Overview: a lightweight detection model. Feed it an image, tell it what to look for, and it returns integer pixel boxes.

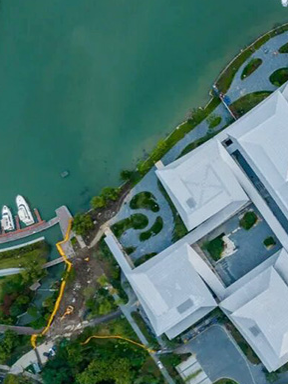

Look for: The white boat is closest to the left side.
[0,206,13,231]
